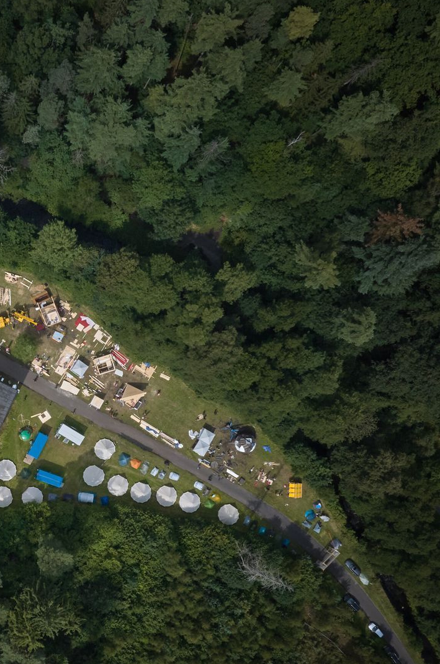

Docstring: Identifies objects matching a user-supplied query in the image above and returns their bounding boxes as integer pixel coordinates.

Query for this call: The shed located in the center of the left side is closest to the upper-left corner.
[36,296,62,327]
